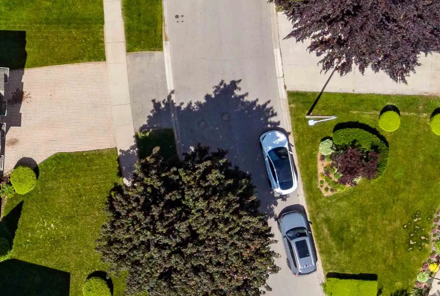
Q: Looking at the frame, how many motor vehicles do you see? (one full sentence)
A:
The photo contains 2 motor vehicles.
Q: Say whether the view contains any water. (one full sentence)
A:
No, the picture contains no water.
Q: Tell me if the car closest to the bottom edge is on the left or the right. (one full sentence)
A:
You can find the car closest to the bottom edge on the right side of the picture.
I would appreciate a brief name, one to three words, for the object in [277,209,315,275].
car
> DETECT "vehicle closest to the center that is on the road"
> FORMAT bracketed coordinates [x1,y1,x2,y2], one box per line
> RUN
[258,129,298,196]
